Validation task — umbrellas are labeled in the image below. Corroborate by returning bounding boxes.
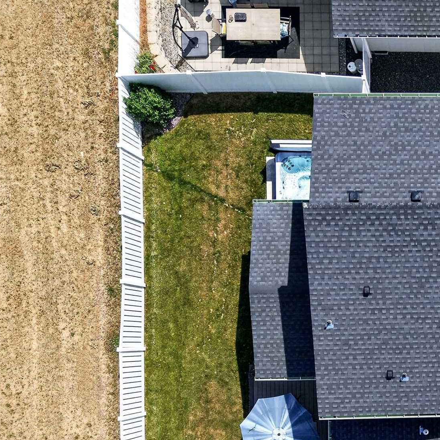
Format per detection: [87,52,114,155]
[173,2,210,59]
[240,393,320,440]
